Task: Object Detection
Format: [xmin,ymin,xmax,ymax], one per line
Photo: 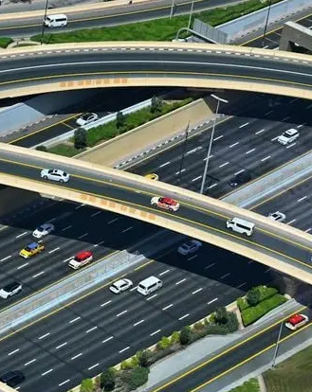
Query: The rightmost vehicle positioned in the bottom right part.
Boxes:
[285,314,308,330]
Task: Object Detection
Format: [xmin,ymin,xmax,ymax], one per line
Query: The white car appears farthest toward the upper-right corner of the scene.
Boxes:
[279,129,298,143]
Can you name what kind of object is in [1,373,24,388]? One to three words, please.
car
